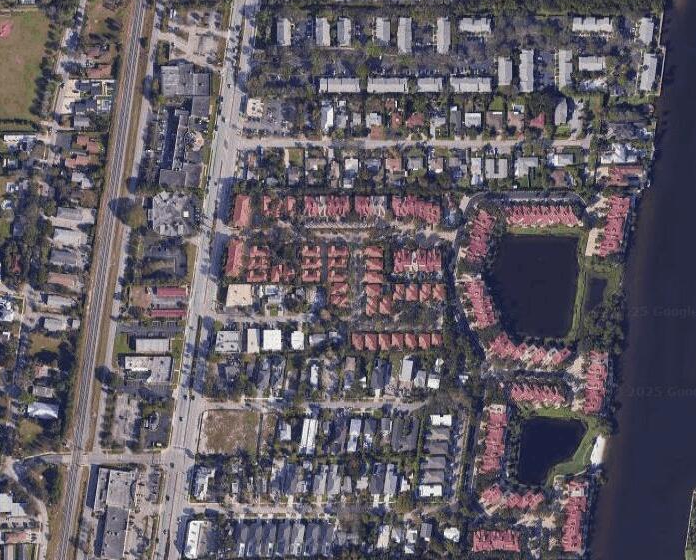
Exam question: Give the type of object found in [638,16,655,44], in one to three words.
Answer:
building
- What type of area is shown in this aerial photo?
residential area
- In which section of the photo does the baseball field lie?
top left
